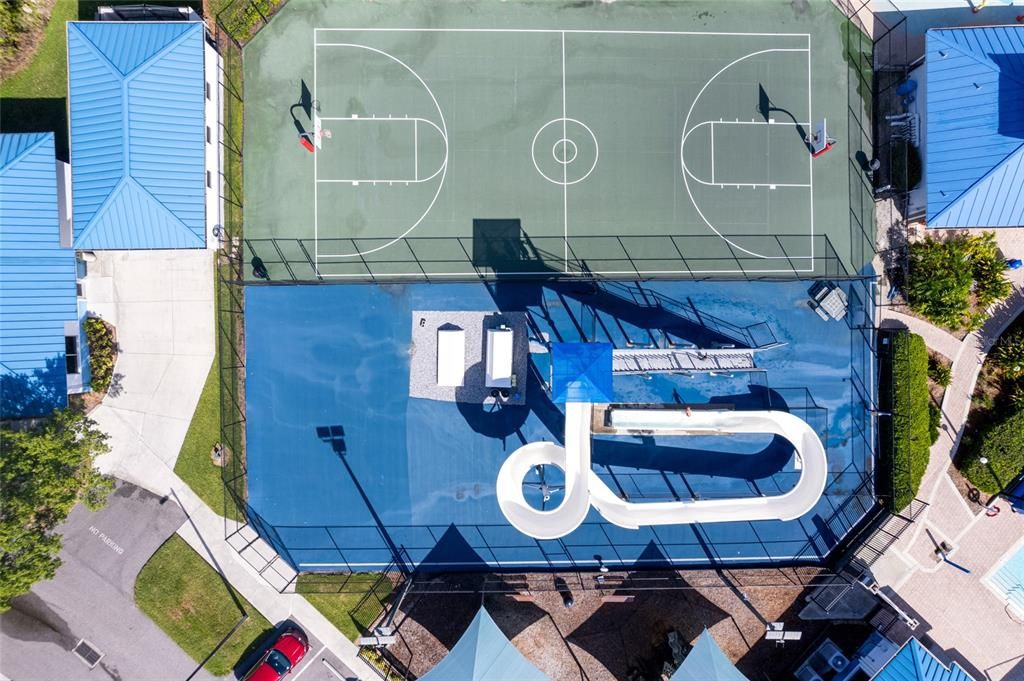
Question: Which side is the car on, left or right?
left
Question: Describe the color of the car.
red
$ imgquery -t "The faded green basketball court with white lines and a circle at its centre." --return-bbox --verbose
[243,0,877,284]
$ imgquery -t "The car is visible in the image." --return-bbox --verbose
[240,629,311,681]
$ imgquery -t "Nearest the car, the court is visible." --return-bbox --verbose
[243,263,879,574]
